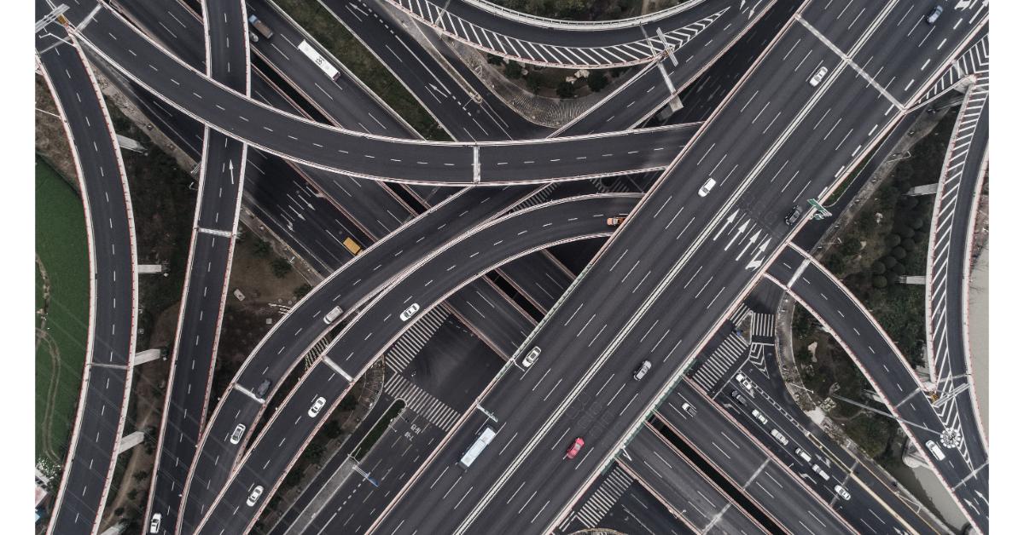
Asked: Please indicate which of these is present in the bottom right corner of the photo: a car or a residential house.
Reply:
car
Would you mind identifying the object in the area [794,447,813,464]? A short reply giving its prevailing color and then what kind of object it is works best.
white vehicle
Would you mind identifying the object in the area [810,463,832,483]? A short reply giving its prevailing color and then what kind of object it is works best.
white vehicle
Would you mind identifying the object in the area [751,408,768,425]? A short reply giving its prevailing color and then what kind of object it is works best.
white car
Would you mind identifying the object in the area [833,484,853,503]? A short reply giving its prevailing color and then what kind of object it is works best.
white car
